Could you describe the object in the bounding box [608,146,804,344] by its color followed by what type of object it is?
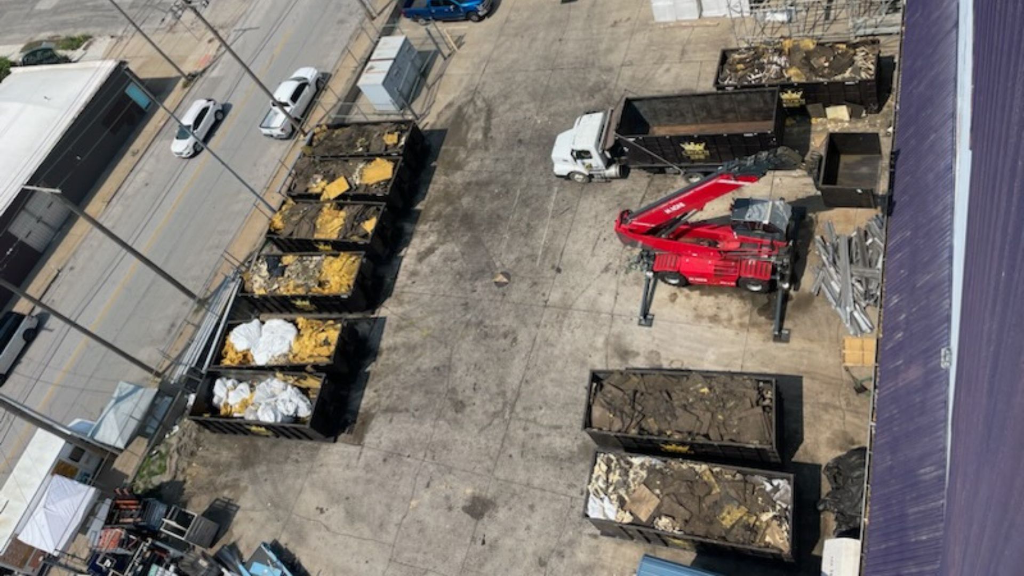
red work vehicle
